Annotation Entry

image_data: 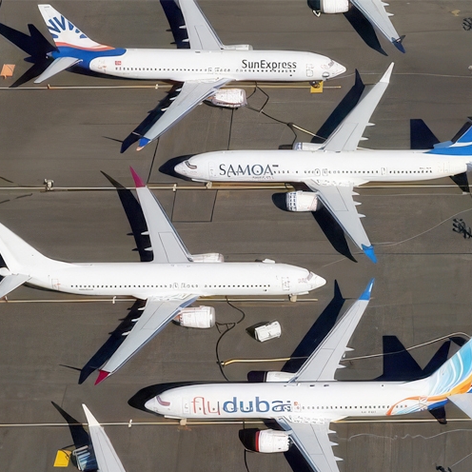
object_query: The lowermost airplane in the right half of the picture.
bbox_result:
[142,277,472,472]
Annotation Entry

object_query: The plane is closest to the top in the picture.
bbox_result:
[319,0,406,54]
